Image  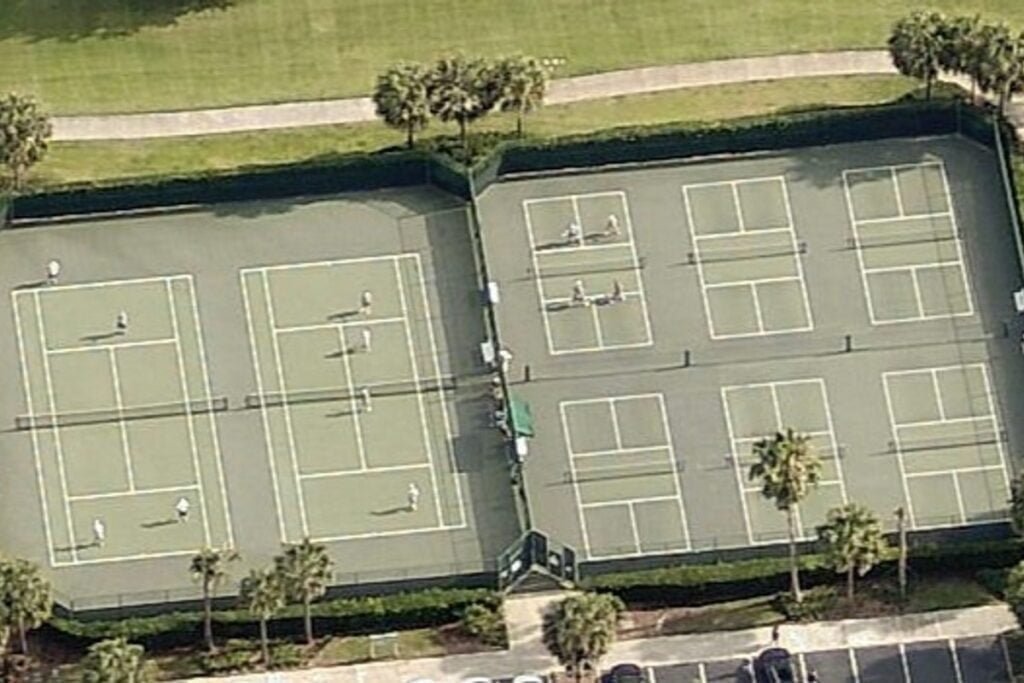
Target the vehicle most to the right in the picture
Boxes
[761,648,798,683]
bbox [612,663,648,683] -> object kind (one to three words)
car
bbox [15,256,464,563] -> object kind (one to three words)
tennis court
